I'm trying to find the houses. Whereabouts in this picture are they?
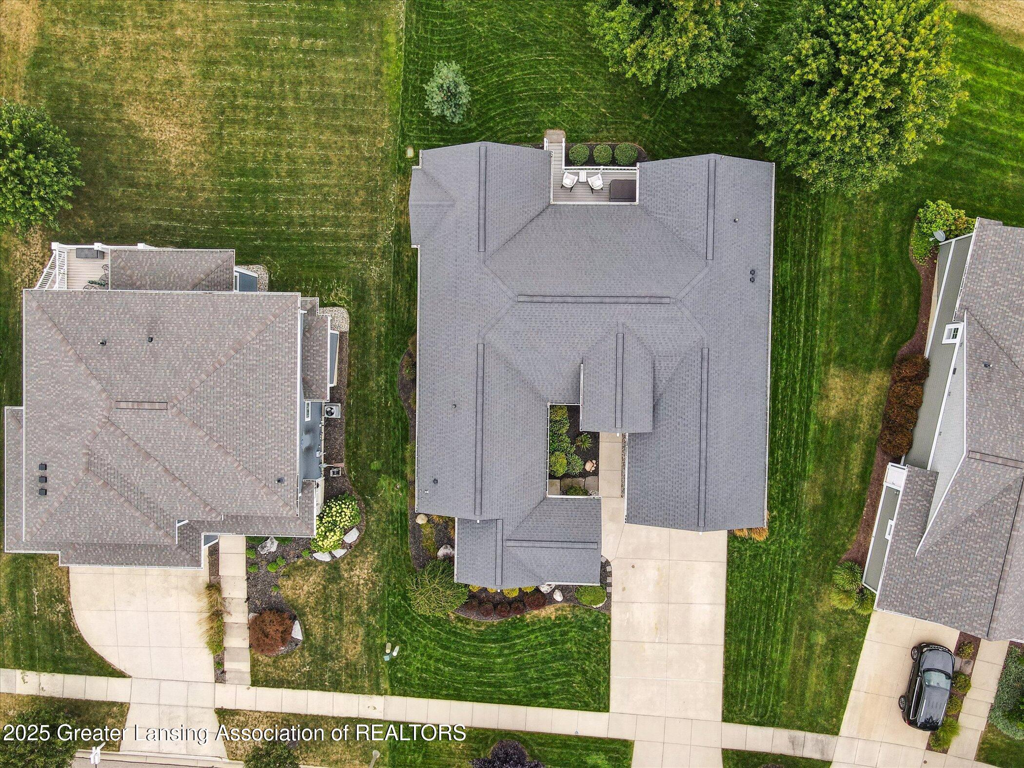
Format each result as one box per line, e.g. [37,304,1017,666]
[861,218,1024,645]
[410,141,775,592]
[3,248,338,569]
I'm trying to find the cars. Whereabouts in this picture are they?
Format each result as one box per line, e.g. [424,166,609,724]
[897,639,955,733]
